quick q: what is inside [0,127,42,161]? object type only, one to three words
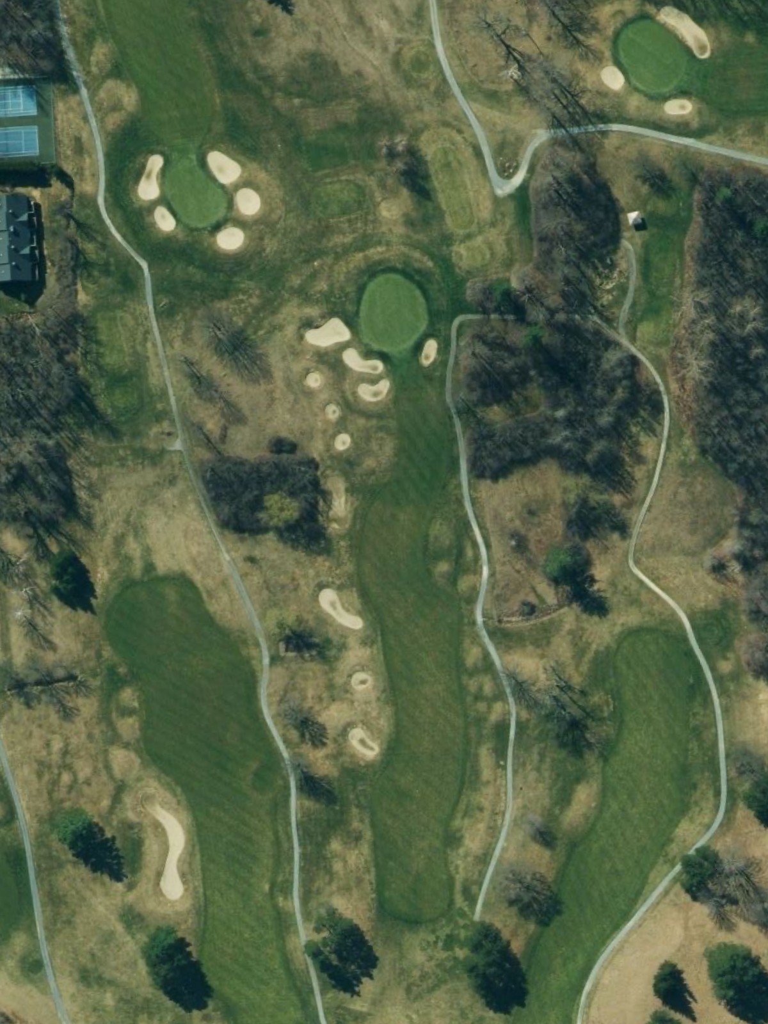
tennis court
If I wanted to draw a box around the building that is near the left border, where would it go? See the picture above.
[0,191,38,280]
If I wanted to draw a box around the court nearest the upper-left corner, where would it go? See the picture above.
[0,89,39,122]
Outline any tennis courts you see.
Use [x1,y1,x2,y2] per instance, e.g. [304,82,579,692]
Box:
[0,89,39,122]
[0,127,42,161]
